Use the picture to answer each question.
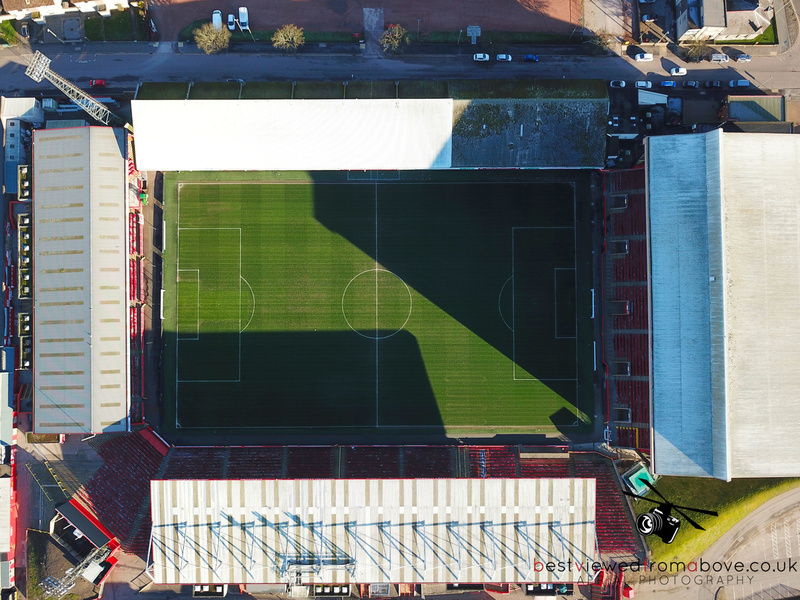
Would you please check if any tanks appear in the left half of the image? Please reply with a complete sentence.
No, there is no tank in the left half of the image.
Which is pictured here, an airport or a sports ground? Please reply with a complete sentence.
The picture captures a sports ground.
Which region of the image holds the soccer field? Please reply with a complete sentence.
You can find the soccer field in the center area of the picture.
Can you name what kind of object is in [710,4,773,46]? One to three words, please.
house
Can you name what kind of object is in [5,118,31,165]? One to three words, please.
shed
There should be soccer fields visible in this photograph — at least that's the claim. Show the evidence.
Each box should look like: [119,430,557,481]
[162,171,593,433]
